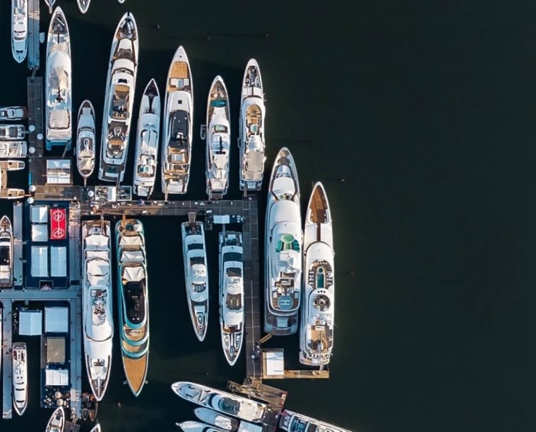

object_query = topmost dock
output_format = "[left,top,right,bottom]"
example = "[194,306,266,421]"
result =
[28,0,40,69]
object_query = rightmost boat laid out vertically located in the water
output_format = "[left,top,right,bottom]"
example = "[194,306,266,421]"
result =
[298,182,334,368]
